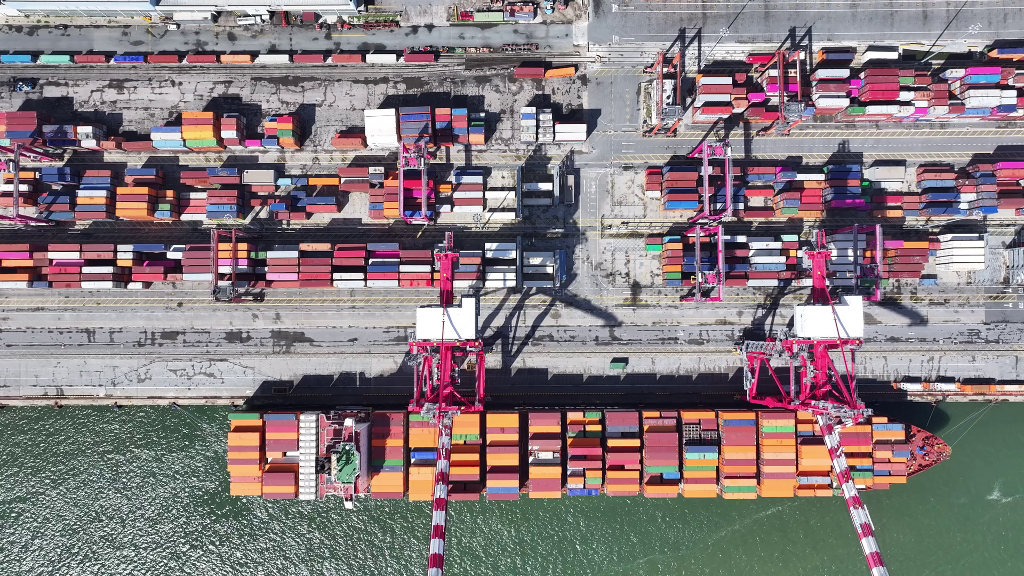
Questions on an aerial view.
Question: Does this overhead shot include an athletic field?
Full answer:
No, I can't see a single athletic field in this photo.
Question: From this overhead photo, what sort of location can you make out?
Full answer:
The picture captures a port.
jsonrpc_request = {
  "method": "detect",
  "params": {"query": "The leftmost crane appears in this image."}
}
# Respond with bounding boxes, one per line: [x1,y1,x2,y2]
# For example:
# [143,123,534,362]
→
[0,146,57,223]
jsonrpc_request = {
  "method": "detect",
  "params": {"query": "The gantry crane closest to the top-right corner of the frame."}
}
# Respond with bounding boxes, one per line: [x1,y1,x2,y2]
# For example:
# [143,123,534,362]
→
[756,53,806,136]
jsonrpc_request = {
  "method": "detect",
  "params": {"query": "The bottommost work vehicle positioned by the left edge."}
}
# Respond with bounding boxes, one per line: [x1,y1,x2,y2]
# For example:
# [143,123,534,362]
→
[6,77,33,93]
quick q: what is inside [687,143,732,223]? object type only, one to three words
container crane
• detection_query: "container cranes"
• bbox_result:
[407,229,490,576]
[211,230,260,303]
[733,230,887,576]
[687,143,732,223]
[680,229,723,302]
[756,53,806,136]
[644,52,686,136]
[827,229,881,302]
[0,146,57,223]
[399,148,435,224]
